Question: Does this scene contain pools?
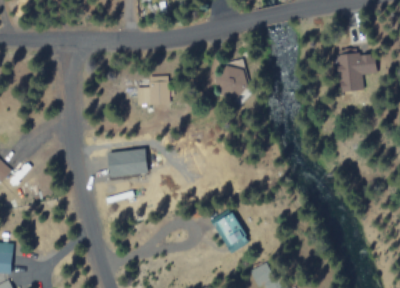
No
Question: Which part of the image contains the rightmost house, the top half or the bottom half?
top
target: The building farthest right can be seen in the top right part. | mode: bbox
[338,54,378,92]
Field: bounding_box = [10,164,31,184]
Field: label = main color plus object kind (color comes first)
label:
white camper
